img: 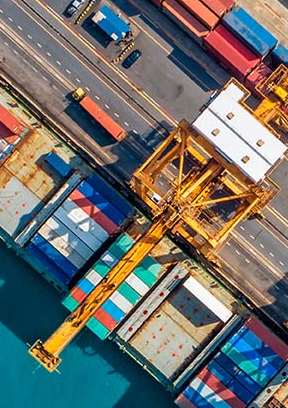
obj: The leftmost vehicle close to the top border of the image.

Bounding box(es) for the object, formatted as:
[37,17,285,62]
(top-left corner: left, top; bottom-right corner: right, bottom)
[67,0,89,16]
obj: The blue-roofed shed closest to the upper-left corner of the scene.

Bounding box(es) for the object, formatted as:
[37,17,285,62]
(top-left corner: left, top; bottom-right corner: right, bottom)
[92,5,132,44]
